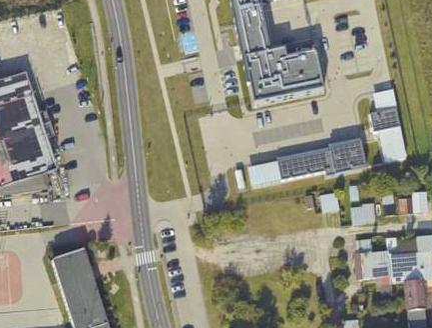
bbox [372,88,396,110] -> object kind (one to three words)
building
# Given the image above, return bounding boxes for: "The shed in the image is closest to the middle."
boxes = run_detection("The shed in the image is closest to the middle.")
[249,161,281,189]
